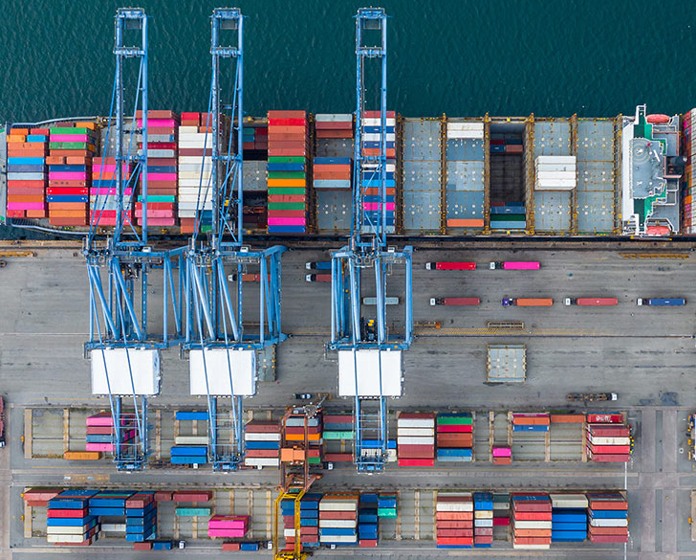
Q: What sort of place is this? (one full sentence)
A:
This looks like a port.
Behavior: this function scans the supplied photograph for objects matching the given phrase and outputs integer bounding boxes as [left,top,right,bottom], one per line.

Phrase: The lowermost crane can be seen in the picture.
[271,477,315,560]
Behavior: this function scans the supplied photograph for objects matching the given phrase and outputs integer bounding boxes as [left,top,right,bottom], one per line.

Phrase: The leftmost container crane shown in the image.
[80,7,208,471]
